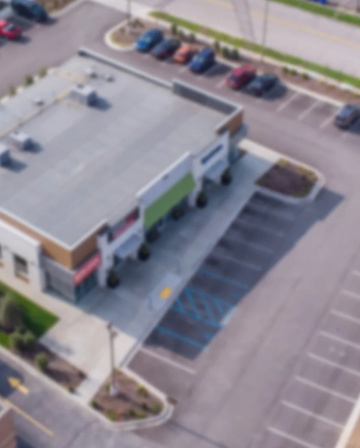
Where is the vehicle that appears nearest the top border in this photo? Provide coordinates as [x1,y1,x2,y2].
[13,0,48,22]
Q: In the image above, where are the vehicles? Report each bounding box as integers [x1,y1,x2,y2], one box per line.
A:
[149,41,184,63]
[246,74,281,99]
[0,22,22,43]
[185,46,219,75]
[13,0,48,22]
[331,104,360,133]
[134,27,167,55]
[224,66,260,91]
[170,43,199,68]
